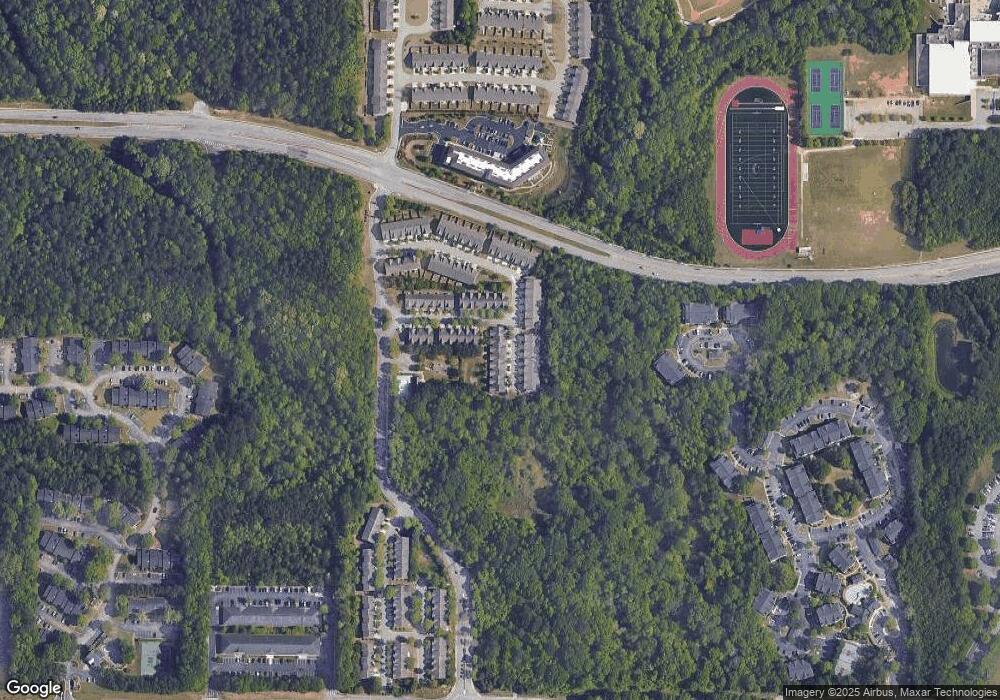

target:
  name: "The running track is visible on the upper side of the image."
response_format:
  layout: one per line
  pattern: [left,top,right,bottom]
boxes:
[716,76,798,261]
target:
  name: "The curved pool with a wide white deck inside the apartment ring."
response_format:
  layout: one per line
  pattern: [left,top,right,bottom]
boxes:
[843,582,872,604]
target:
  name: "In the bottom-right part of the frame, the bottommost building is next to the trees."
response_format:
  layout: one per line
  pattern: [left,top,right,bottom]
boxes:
[788,660,813,680]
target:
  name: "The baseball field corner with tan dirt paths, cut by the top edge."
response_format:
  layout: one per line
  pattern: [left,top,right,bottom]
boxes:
[676,0,754,25]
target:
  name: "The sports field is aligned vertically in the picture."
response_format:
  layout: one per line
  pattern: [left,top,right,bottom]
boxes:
[727,87,788,251]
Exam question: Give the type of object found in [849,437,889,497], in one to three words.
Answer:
building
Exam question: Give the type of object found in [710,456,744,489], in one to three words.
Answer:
building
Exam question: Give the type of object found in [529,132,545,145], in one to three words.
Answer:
swimming pool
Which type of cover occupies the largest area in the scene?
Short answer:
trees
